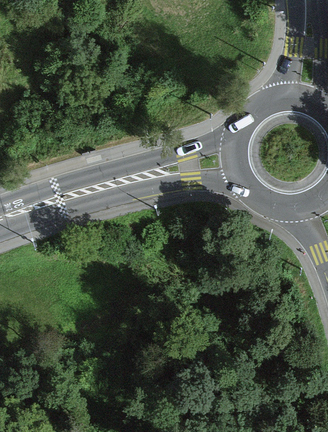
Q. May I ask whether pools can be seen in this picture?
No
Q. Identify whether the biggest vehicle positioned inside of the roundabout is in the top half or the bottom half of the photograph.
top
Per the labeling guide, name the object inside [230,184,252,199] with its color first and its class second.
white car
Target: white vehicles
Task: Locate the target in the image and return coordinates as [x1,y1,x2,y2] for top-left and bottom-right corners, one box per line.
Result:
[228,114,257,134]
[230,184,252,199]
[176,142,204,157]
